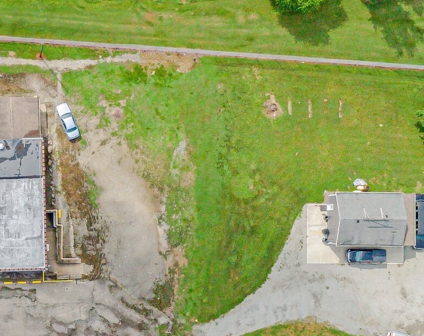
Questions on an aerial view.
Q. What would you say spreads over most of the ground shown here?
grass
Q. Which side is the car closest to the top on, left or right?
left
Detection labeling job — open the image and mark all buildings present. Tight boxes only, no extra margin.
[0,139,51,276]
[325,191,415,247]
